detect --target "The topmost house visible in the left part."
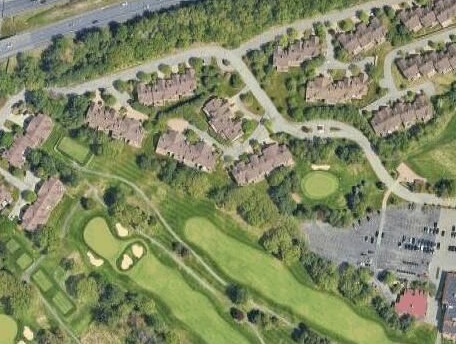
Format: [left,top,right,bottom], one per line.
[138,70,197,108]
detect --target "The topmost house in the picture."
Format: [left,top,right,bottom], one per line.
[401,0,456,36]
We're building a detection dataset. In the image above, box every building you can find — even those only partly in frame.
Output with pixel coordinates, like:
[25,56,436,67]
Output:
[438,267,456,344]
[373,91,435,141]
[201,100,247,143]
[5,113,54,170]
[23,177,65,233]
[398,41,456,86]
[0,184,16,216]
[138,70,197,108]
[159,133,216,169]
[233,141,295,188]
[401,0,456,36]
[396,288,428,320]
[87,105,145,144]
[307,75,369,105]
[340,18,389,59]
[275,37,323,72]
